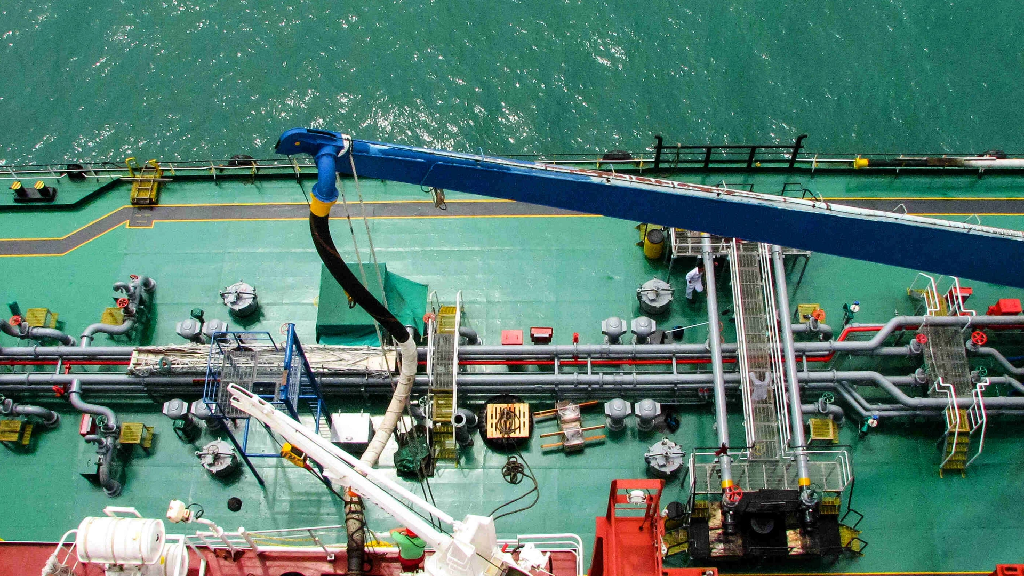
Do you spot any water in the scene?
Yes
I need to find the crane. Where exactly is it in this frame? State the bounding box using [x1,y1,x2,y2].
[224,380,535,576]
